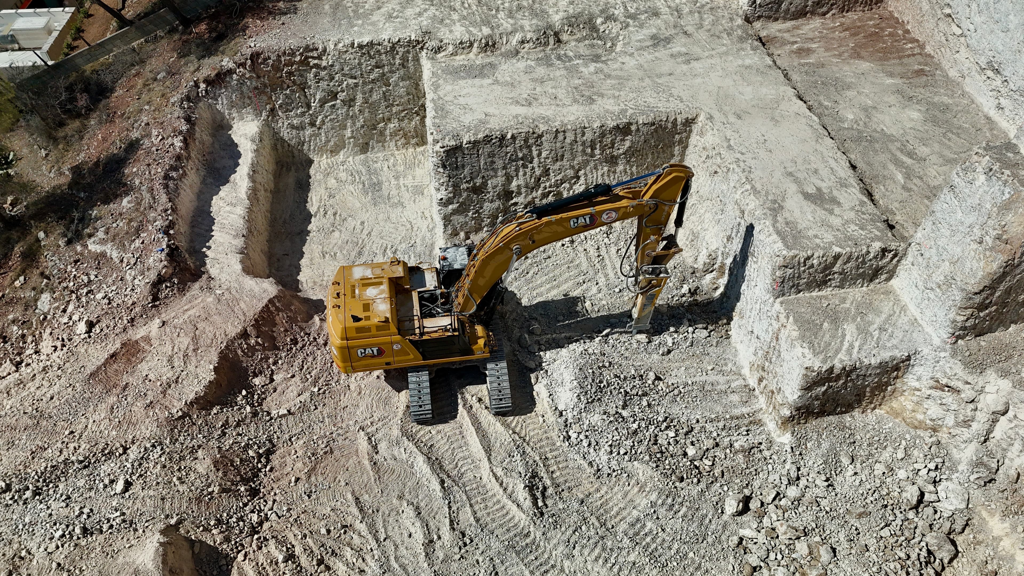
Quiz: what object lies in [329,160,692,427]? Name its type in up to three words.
work vehicle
